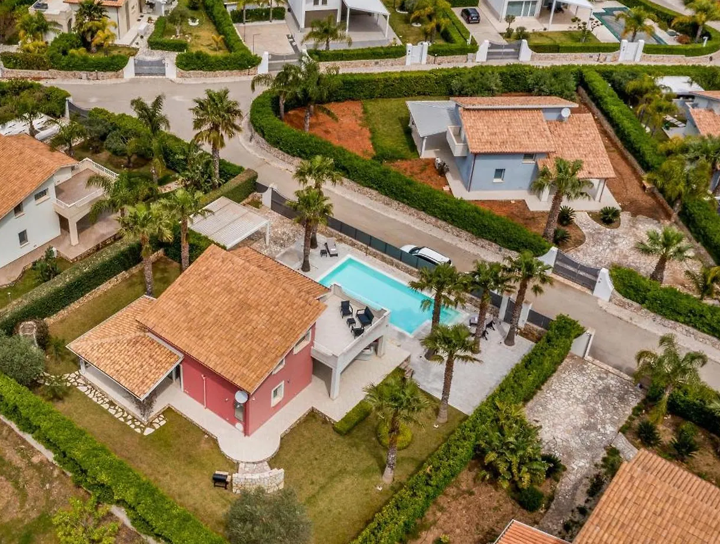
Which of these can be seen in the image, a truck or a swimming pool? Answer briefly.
swimming pool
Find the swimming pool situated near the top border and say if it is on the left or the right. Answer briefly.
right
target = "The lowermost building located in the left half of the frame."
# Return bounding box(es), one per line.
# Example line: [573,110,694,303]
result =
[61,243,393,435]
